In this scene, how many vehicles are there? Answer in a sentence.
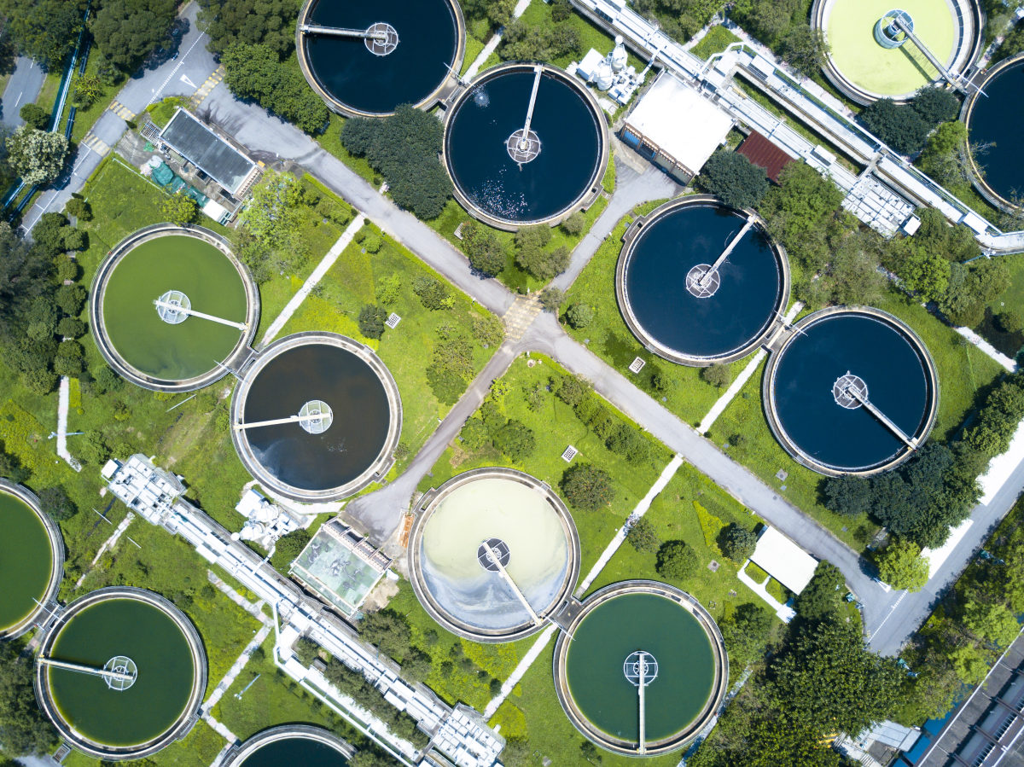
Altogether the scene contains 1 vehicle.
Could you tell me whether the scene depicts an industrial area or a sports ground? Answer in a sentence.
The picture captures an industrial area.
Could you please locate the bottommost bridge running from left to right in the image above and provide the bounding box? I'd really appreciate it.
[32,650,134,684]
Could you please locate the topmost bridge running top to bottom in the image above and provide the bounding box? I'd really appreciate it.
[522,60,547,150]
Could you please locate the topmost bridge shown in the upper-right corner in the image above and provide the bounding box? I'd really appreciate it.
[895,13,961,86]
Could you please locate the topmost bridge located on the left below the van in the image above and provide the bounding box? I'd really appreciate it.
[152,300,254,336]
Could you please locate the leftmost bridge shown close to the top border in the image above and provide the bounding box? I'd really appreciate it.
[296,21,385,38]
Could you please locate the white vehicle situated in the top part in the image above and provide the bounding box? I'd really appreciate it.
[197,195,232,226]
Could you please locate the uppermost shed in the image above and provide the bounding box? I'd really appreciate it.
[577,48,604,82]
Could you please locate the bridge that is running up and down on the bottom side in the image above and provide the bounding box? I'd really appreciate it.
[633,657,650,757]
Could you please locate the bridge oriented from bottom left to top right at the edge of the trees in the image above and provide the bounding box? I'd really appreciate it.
[699,212,762,284]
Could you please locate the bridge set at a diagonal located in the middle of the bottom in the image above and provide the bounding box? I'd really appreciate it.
[483,543,547,627]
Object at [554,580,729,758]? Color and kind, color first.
green storage tank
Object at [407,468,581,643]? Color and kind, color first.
white storage tank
